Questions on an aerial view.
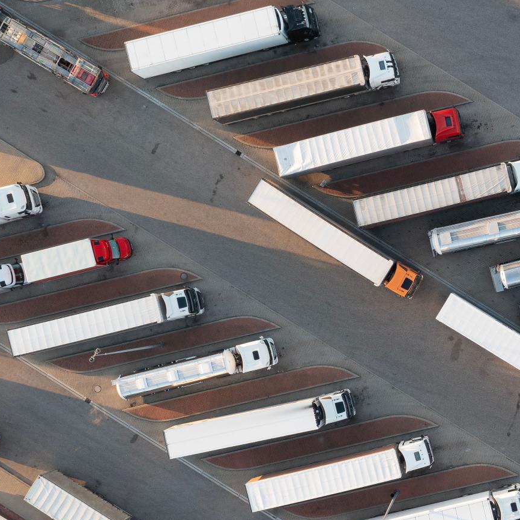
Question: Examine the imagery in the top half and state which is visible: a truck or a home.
truck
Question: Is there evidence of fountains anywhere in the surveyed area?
No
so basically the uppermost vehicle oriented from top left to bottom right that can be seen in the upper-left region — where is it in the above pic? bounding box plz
[0,6,114,99]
